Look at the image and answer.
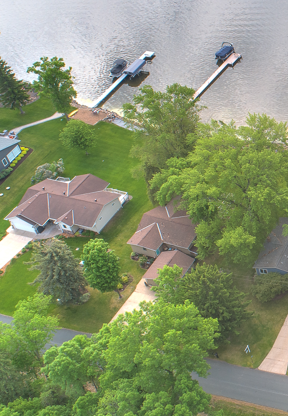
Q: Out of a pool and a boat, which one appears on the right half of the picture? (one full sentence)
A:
The one visible on the right half of the picture is a boat.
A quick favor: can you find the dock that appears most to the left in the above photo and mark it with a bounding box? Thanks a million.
[90,51,152,108]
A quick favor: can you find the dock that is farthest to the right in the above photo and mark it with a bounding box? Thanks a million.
[185,60,238,114]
